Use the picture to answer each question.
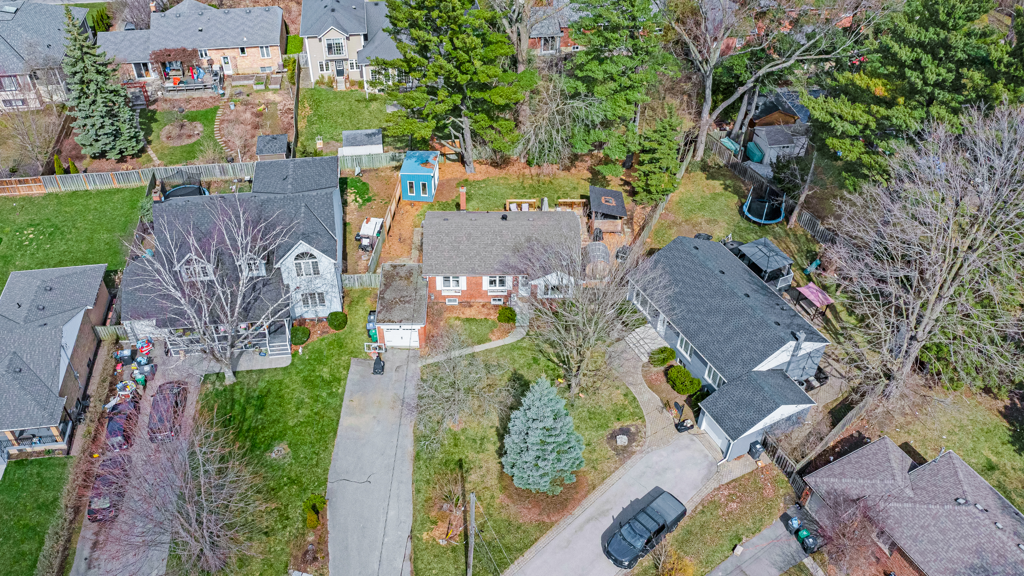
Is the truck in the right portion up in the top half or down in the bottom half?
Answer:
bottom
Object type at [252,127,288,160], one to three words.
shed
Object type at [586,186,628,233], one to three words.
building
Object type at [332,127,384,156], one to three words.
shed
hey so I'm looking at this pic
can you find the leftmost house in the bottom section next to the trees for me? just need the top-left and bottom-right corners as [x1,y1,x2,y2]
[0,263,110,457]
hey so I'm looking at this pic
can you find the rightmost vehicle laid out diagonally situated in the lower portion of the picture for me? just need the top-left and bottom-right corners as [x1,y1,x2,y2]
[606,493,687,571]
